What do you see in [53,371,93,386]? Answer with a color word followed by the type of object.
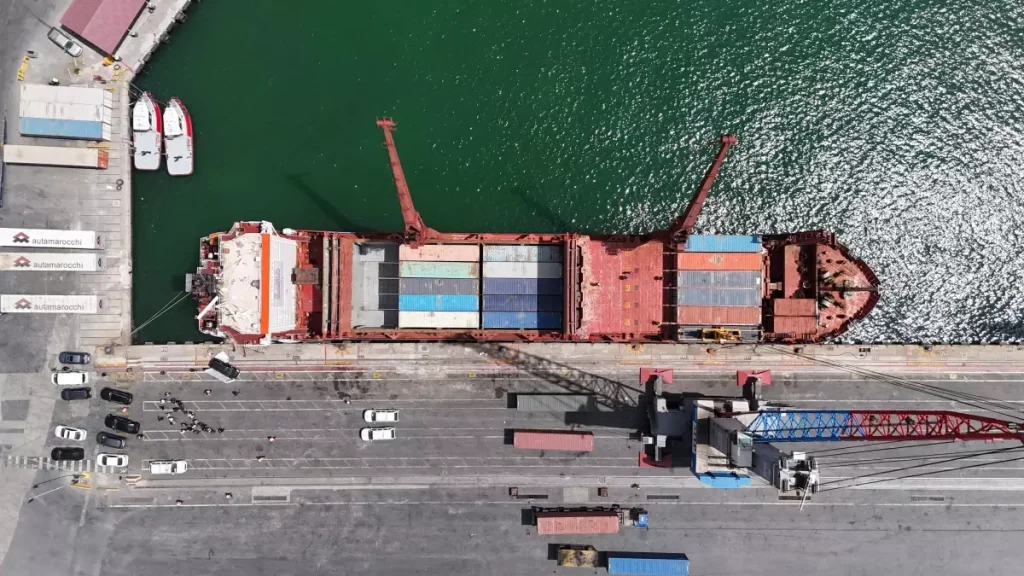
white vehicle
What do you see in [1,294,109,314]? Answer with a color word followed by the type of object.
white trailer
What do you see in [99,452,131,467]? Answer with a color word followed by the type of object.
white car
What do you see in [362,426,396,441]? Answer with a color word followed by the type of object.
white car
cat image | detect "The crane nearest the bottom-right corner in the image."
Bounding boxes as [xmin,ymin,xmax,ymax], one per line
[639,333,1024,514]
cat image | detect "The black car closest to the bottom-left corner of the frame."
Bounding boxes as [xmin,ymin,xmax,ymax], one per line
[53,446,87,460]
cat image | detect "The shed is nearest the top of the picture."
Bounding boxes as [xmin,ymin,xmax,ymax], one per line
[61,0,153,56]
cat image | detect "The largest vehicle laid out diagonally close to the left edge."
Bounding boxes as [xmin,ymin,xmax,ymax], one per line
[50,28,85,58]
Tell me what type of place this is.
port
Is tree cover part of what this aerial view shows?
No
